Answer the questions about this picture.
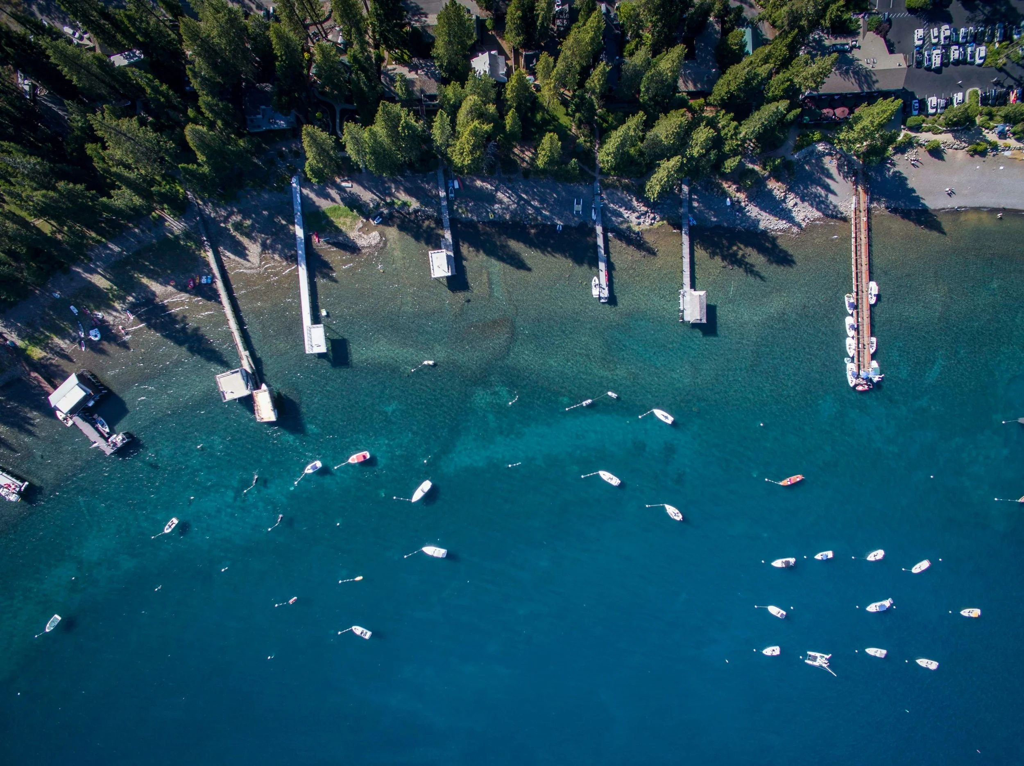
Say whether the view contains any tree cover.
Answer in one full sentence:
Yes, some tree cover is visible.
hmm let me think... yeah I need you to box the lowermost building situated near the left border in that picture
[41,369,104,419]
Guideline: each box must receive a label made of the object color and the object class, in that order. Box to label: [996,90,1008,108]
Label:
black vehicle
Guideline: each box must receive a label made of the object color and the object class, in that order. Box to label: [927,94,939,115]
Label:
white vehicle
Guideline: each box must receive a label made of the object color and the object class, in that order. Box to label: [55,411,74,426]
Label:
white boat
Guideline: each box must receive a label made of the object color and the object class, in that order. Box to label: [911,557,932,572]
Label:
white boat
